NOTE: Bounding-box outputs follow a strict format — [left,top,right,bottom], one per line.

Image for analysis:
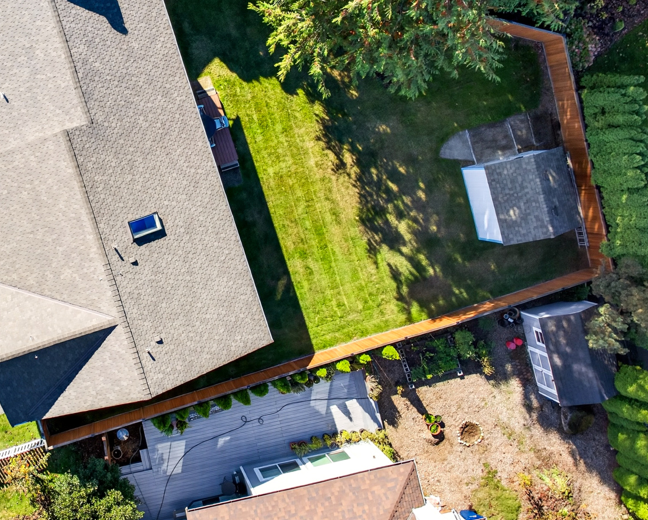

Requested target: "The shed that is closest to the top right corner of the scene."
[461,145,577,247]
